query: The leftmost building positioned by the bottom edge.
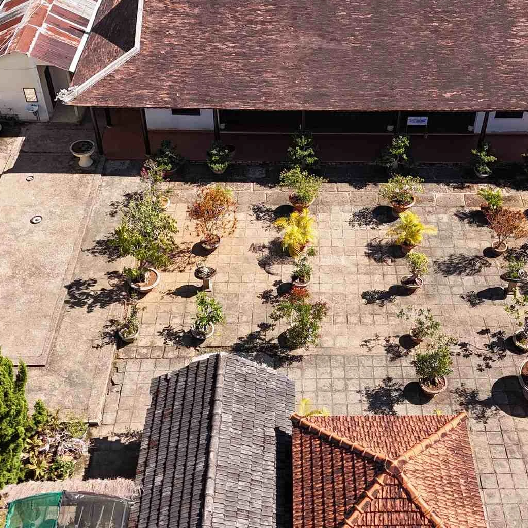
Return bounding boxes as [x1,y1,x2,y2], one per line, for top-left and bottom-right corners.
[122,352,296,528]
